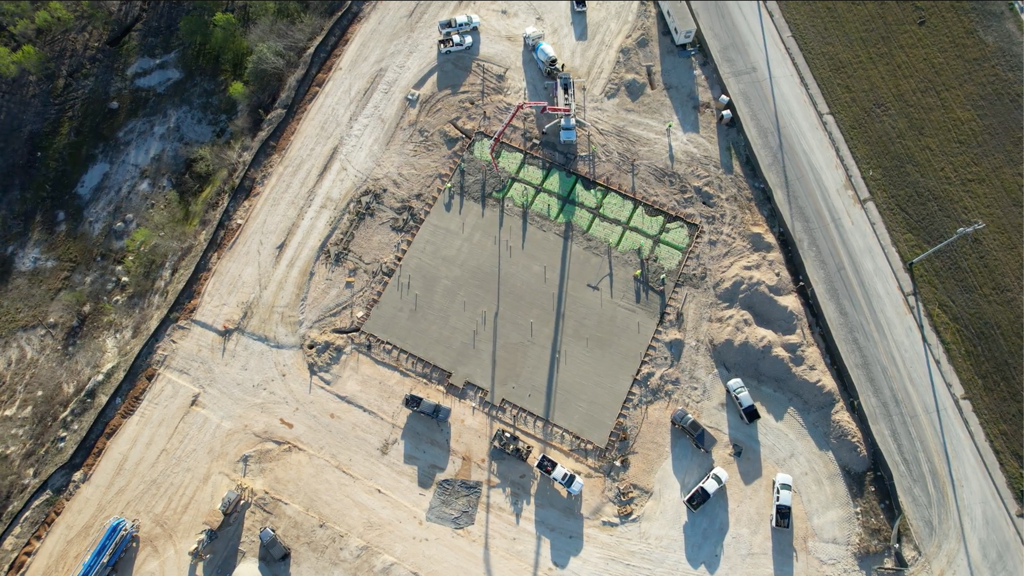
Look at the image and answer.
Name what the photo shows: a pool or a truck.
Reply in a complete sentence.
Visible in the photo is a truck.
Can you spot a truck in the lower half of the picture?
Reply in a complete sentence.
Yes, a truck appears in the lower half of the picture.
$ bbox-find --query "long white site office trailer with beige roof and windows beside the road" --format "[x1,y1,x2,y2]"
[646,0,696,52]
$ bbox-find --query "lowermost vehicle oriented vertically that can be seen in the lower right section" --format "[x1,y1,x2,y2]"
[770,474,796,530]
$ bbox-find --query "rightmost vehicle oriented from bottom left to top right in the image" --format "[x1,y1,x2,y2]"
[682,466,729,515]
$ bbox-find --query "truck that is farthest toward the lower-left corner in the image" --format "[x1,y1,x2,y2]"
[70,507,153,576]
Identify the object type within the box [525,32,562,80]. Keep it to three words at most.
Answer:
truck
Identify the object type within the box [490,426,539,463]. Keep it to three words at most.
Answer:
trailer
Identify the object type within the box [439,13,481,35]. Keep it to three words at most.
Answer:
truck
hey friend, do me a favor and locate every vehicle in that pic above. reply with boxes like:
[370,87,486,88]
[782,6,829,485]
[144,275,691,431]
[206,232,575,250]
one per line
[770,474,796,530]
[439,13,481,35]
[200,478,255,557]
[682,466,729,515]
[525,32,562,80]
[669,408,717,454]
[534,453,584,494]
[573,0,588,12]
[489,78,592,178]
[726,379,762,424]
[70,507,153,576]
[402,392,452,423]
[258,526,291,567]
[439,33,474,55]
